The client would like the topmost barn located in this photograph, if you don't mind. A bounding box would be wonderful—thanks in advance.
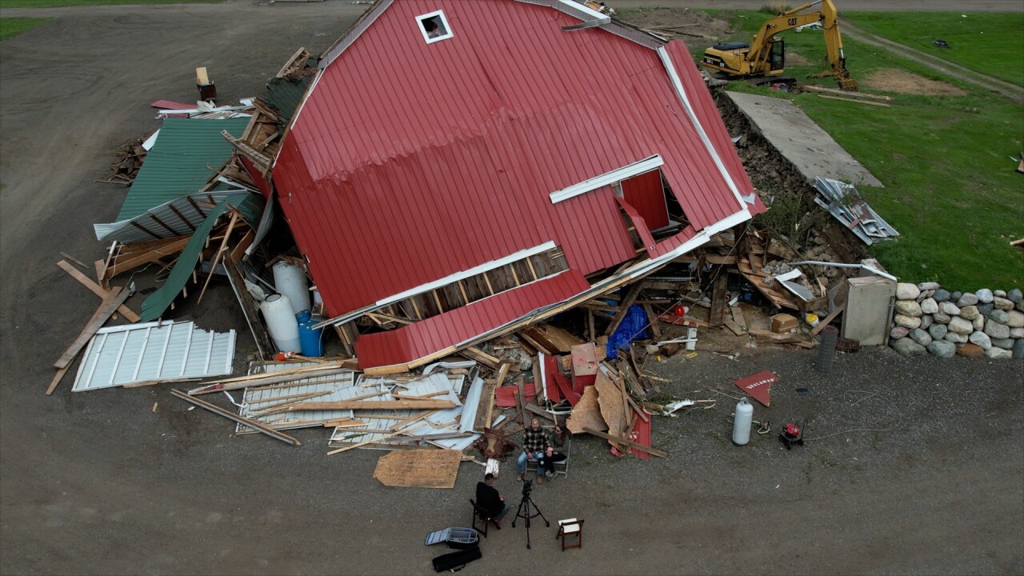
[269,0,767,377]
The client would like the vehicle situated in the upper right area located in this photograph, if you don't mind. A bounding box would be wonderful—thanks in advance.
[710,0,857,92]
